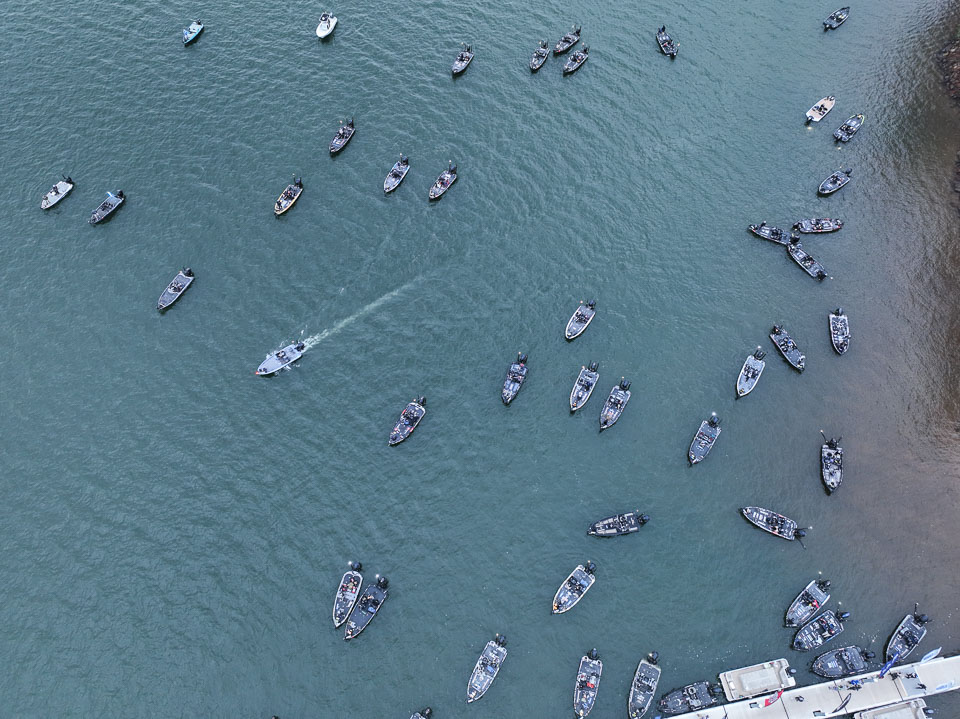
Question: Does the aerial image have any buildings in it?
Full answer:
No, this view has no building in it.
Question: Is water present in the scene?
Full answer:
Yes, there's water in this view.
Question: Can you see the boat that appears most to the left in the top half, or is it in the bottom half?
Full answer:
Seen from above, the boat that appears most to the left lies in the top half of the view.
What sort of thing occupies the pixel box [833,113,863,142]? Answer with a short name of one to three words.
boat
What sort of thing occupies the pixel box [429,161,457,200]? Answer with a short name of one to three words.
boat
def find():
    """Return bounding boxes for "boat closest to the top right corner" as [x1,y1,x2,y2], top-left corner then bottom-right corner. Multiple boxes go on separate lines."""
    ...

[823,6,850,30]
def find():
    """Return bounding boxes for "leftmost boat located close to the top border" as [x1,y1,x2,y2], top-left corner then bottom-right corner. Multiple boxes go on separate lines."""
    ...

[184,17,203,41]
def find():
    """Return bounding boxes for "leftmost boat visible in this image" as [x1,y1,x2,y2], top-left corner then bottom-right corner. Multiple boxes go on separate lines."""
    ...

[40,175,73,209]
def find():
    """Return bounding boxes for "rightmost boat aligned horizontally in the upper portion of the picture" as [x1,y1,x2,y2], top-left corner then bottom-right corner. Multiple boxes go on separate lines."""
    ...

[793,218,845,233]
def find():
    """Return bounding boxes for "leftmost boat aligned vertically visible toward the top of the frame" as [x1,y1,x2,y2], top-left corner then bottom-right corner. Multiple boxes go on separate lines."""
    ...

[318,11,335,42]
